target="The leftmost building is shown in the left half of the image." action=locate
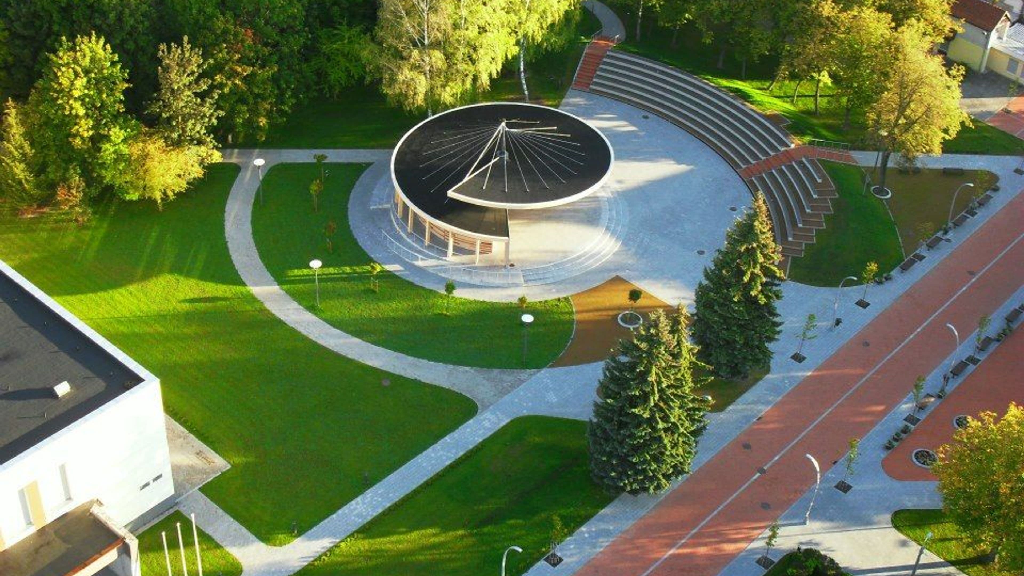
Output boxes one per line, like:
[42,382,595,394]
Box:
[0,262,179,559]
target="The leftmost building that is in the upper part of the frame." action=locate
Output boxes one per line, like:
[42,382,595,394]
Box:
[390,102,615,267]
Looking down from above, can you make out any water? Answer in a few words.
No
